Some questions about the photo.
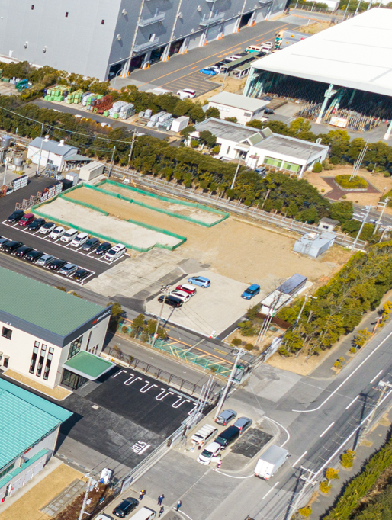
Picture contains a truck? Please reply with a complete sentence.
Yes, there's a truck down there.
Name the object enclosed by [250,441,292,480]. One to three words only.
truck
